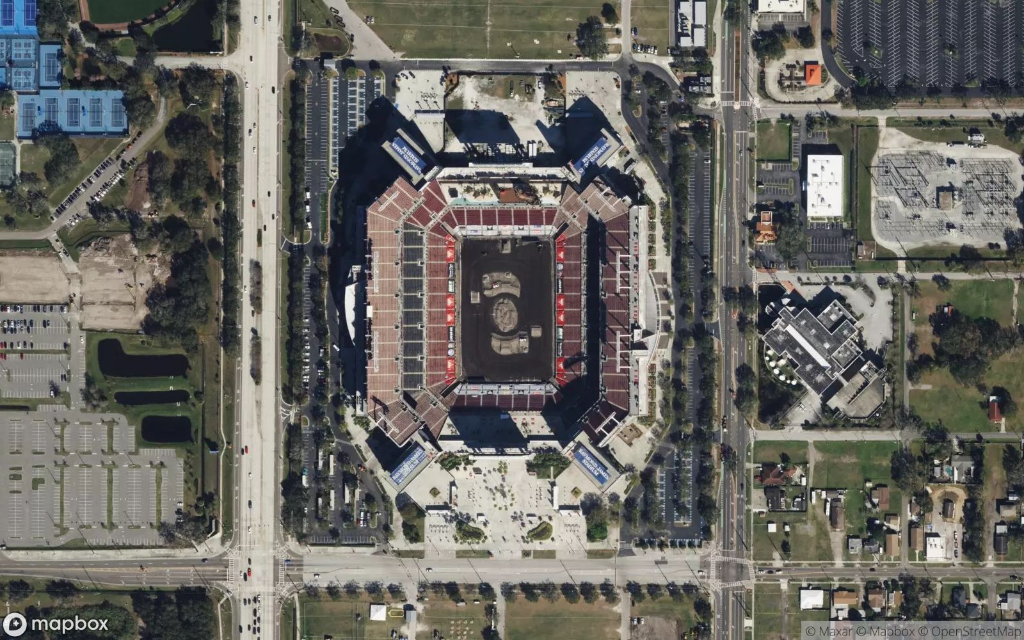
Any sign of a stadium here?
Yes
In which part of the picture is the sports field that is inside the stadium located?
center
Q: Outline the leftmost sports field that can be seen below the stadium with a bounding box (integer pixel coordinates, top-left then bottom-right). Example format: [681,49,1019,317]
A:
[301,599,410,640]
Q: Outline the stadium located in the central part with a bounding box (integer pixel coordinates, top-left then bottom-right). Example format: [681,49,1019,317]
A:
[345,128,666,492]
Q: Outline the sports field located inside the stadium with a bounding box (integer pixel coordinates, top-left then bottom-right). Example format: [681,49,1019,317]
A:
[455,236,556,385]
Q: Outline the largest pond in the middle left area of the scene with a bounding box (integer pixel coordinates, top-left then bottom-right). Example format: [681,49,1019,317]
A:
[98,338,189,377]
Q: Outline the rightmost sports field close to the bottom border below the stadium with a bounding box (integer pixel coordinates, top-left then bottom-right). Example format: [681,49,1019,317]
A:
[504,599,622,640]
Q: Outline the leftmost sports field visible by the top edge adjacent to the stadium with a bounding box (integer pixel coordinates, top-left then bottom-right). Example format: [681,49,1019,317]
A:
[351,0,622,58]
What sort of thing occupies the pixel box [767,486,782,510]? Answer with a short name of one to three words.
house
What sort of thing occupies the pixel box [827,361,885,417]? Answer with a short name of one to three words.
building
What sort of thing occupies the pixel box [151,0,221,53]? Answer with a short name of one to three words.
pond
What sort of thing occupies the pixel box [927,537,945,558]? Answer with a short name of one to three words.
building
